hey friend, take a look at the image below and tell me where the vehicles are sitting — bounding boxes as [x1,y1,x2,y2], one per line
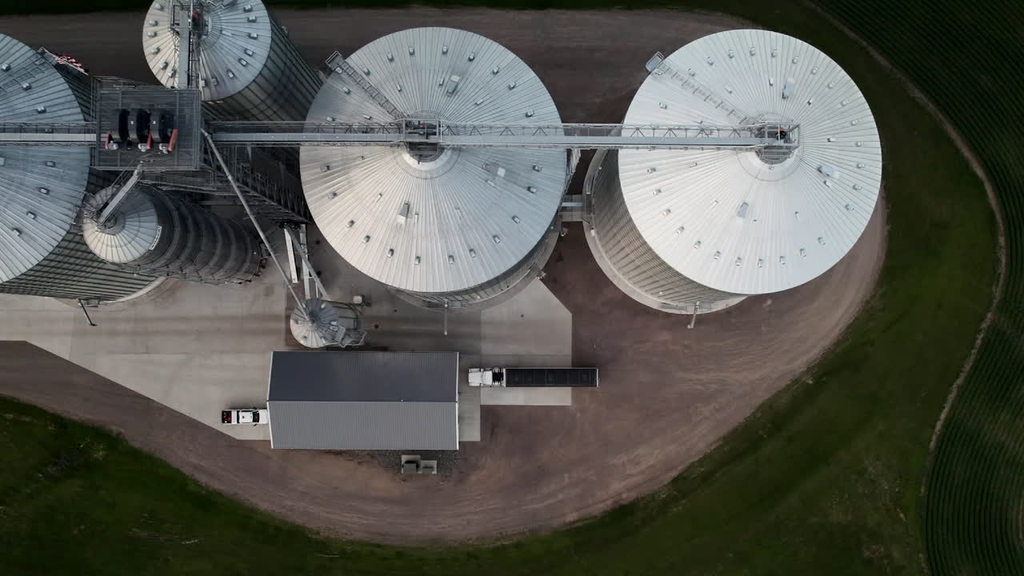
[467,367,600,388]
[221,407,265,426]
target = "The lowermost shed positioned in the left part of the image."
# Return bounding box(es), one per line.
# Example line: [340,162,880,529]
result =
[264,350,462,450]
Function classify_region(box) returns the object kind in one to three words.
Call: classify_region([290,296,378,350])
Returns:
silo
